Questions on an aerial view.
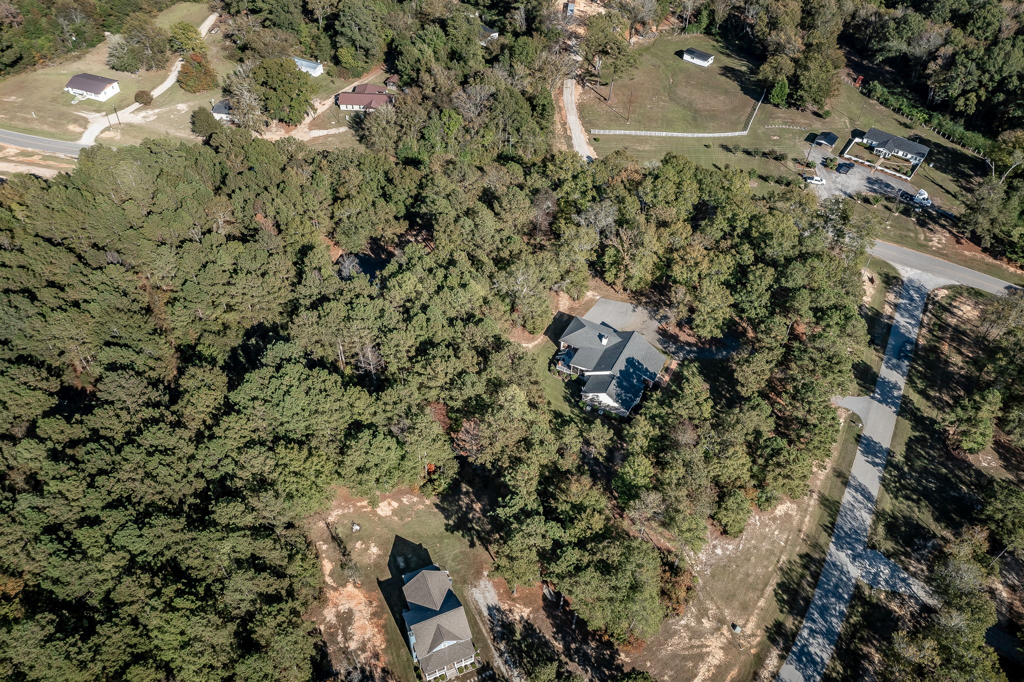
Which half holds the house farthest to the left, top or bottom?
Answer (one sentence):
You can find the house farthest to the left in the top half.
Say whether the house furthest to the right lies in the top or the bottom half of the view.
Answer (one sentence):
The house furthest to the right sits in the top half of the picture.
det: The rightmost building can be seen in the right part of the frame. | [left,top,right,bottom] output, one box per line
[863,126,934,167]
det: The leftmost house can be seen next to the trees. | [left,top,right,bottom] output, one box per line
[65,75,123,103]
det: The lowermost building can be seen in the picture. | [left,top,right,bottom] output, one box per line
[403,562,482,681]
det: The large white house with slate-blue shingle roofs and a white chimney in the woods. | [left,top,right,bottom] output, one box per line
[554,316,667,423]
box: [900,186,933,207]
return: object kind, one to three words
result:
truck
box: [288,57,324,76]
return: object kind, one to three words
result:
house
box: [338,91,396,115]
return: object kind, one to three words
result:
house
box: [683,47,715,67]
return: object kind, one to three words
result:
shed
